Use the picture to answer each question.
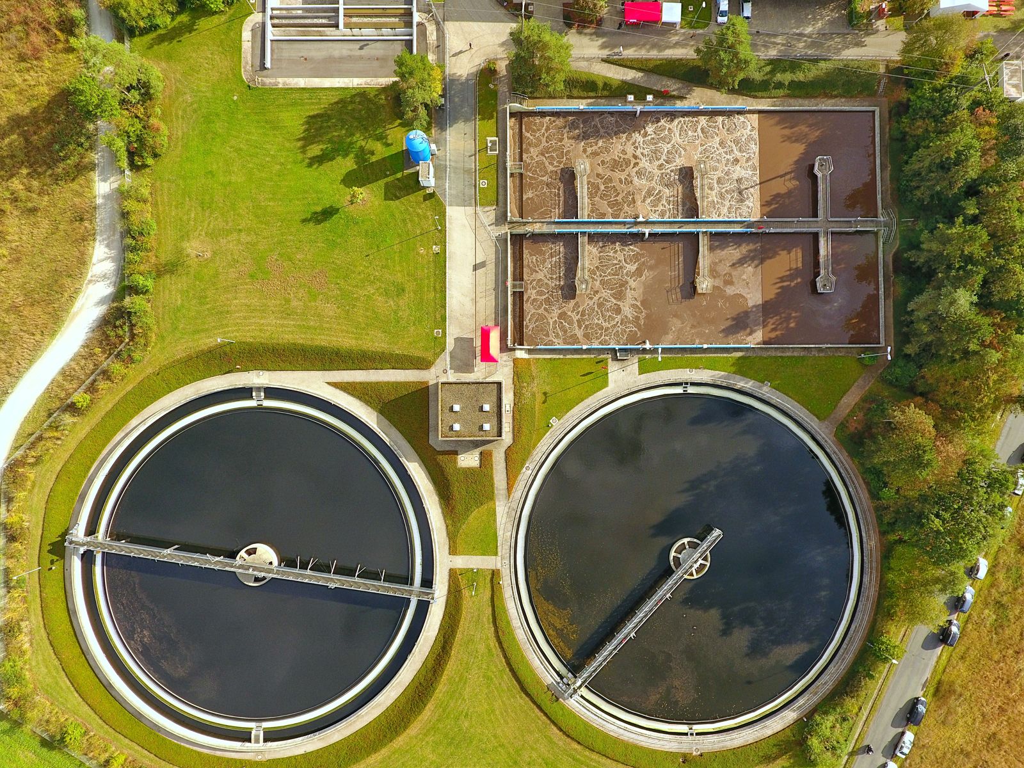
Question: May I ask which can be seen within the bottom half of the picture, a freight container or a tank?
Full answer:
What appears within the bottom half of the picture is a tank.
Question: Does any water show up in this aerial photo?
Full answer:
Yes, the picture does contain water.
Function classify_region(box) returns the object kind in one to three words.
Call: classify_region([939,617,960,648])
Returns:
car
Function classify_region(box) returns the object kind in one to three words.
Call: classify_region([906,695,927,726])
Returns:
car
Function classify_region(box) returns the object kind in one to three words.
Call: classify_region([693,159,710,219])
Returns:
pier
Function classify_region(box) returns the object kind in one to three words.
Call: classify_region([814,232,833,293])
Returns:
pier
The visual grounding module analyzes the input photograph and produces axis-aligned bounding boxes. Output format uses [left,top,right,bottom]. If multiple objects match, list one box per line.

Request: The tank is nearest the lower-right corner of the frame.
[499,370,881,752]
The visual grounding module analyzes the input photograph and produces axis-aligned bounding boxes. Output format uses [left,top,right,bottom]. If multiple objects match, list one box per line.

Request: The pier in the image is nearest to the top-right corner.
[812,156,832,221]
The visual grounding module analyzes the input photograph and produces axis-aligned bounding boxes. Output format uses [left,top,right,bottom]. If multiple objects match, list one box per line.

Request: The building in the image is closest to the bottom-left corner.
[440,378,504,440]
